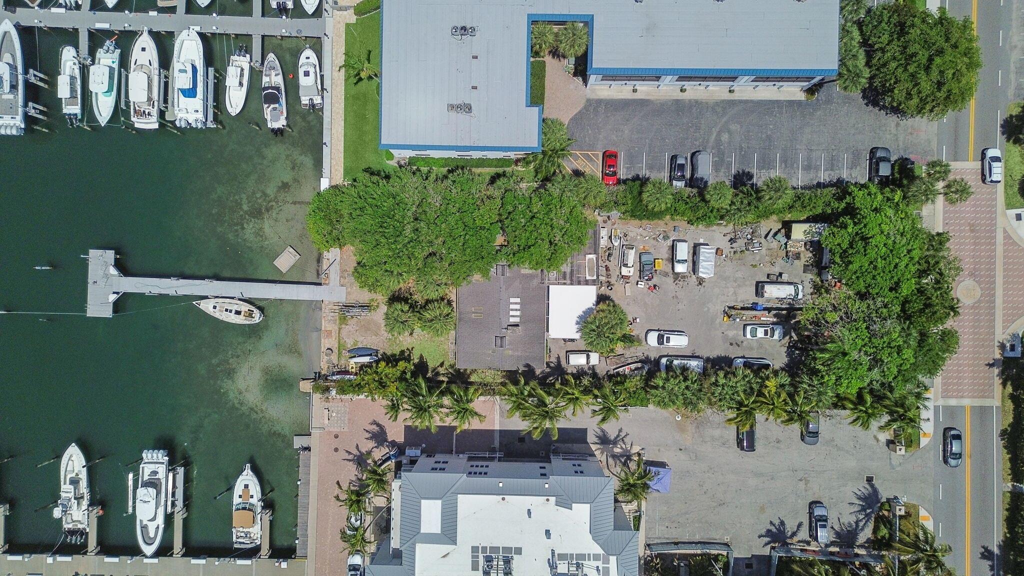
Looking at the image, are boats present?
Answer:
Yes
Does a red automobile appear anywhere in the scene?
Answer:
Yes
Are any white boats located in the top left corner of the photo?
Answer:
Yes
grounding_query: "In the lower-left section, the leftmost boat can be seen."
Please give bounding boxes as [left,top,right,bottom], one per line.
[53,444,93,539]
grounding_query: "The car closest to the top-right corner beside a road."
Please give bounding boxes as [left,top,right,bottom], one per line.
[979,148,1003,187]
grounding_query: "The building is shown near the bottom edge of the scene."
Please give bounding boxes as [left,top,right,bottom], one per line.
[364,449,640,576]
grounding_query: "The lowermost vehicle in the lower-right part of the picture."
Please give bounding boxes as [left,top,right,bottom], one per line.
[807,500,830,544]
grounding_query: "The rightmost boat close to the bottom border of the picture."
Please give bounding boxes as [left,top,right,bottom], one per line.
[232,464,262,548]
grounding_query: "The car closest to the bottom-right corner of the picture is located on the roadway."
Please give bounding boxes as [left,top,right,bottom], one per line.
[941,426,963,467]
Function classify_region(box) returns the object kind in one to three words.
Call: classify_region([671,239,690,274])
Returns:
car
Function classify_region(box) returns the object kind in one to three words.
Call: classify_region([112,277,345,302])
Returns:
pier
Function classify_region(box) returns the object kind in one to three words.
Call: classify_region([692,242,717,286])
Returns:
trailer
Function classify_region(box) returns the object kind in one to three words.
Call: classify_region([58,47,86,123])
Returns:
boat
